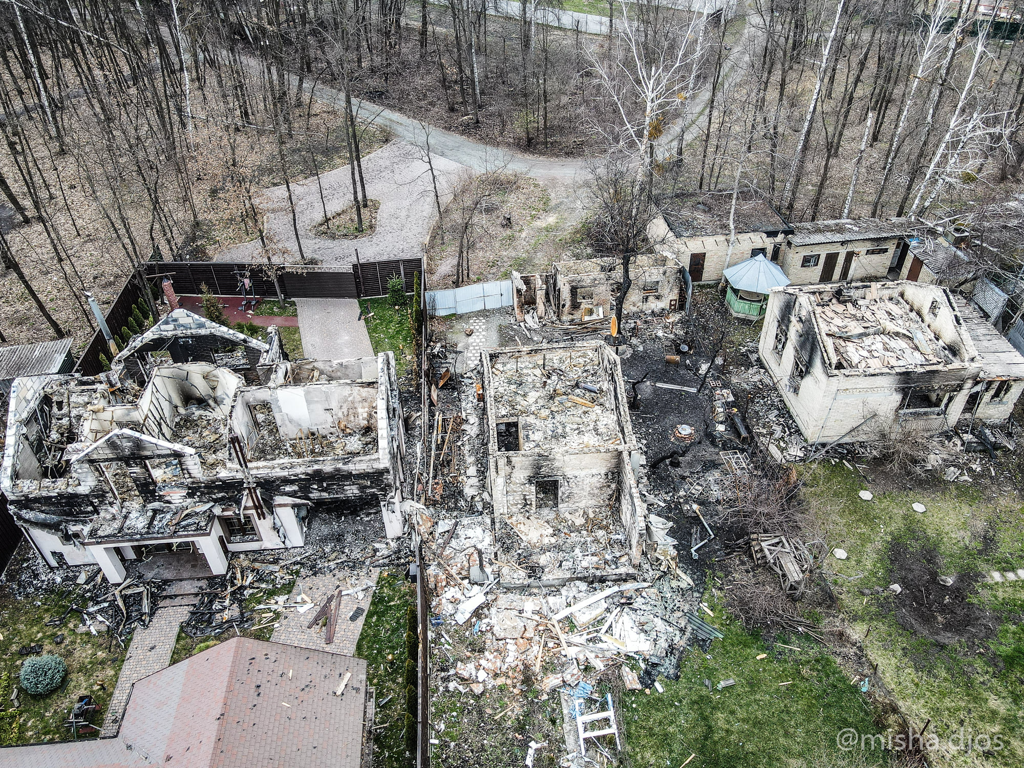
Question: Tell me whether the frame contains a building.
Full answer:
Yes, this view includes a building.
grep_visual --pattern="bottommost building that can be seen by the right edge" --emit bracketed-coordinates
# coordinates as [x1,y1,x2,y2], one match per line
[760,281,1024,457]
